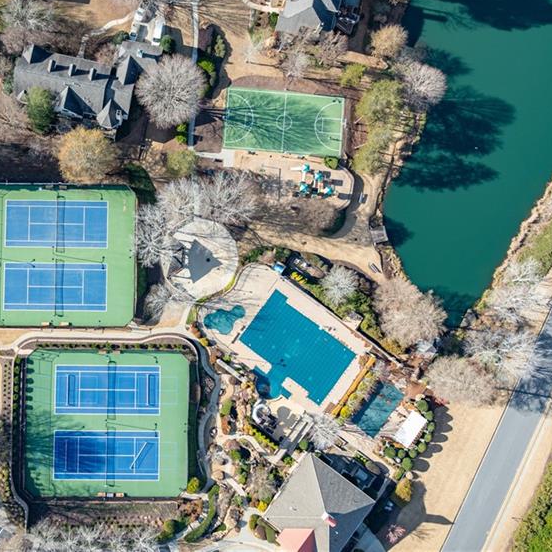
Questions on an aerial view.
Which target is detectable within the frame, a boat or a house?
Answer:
house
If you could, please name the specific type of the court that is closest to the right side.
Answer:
basketball court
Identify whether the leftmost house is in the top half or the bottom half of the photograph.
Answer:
top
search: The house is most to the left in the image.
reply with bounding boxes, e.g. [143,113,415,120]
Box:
[10,35,166,132]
